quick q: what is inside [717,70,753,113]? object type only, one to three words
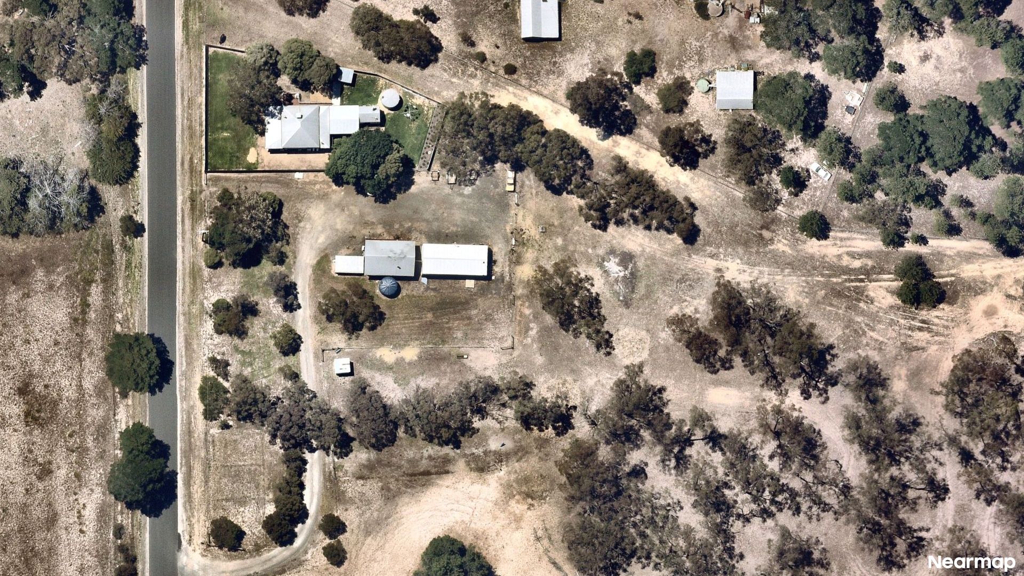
shed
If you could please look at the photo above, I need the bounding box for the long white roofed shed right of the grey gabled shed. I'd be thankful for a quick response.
[422,244,488,276]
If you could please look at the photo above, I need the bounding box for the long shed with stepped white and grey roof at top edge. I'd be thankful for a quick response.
[521,0,558,39]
